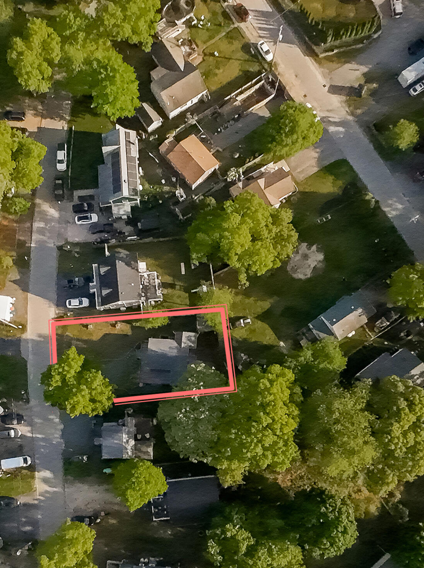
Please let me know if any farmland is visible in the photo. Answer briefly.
No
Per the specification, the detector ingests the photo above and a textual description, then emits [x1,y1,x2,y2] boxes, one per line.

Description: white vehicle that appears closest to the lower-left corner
[0,456,32,469]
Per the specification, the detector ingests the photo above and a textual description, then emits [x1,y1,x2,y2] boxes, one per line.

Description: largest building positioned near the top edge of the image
[146,14,208,119]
